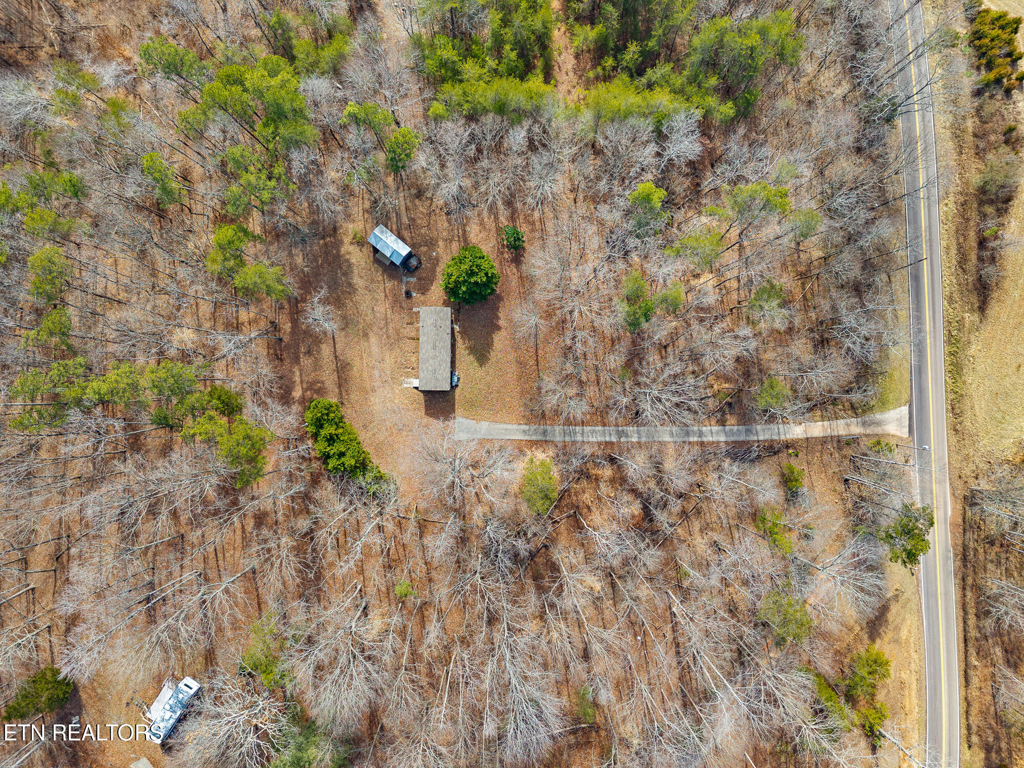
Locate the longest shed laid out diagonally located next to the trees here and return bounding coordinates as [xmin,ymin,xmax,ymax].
[369,225,412,266]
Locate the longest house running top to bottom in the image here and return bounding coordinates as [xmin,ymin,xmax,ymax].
[419,307,452,391]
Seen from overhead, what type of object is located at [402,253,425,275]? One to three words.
truck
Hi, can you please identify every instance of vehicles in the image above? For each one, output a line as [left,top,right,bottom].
[148,672,205,742]
[402,253,425,275]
